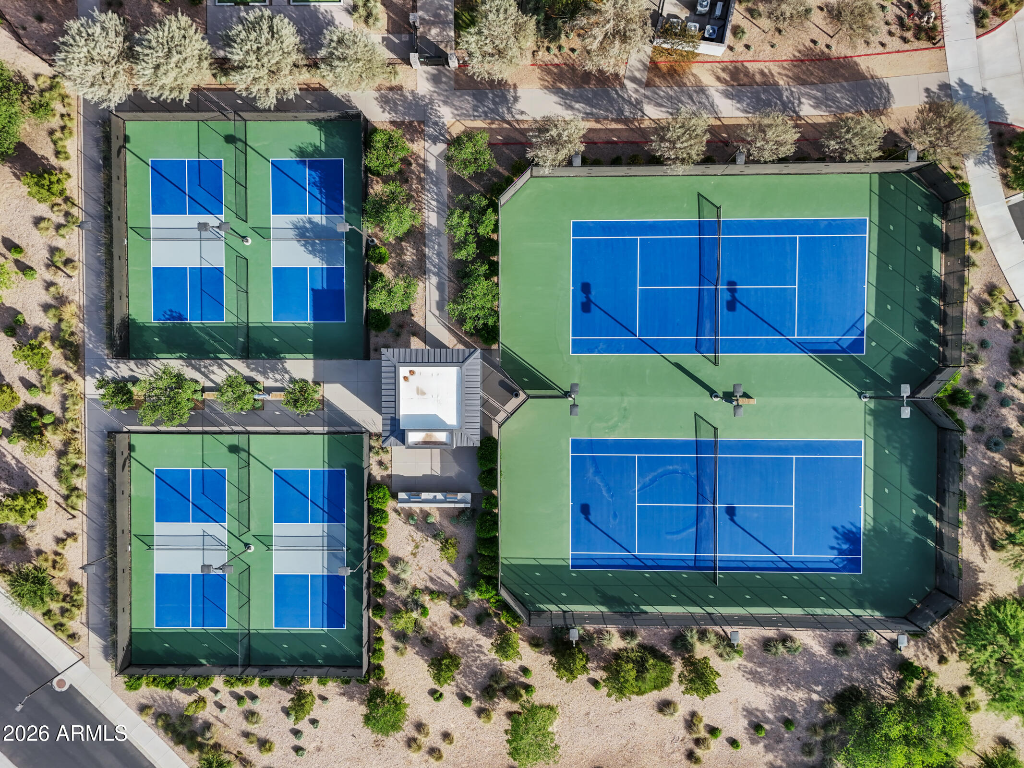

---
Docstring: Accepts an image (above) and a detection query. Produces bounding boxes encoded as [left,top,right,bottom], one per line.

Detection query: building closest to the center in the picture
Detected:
[380,348,481,449]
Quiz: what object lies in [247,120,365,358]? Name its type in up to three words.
sports court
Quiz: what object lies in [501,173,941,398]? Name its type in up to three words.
tennis court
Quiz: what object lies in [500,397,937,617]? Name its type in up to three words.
tennis court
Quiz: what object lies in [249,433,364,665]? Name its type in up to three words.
sports court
